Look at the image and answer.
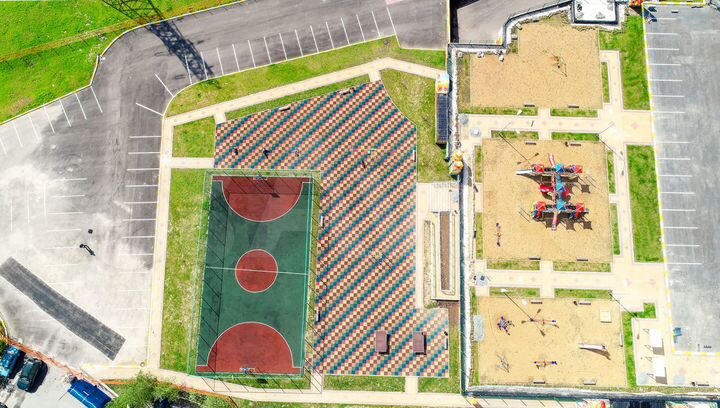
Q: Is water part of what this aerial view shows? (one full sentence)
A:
No, there's no water in this view.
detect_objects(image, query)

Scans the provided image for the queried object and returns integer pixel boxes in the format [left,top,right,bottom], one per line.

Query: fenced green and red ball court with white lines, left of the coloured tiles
[197,174,314,376]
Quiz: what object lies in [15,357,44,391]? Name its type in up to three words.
car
